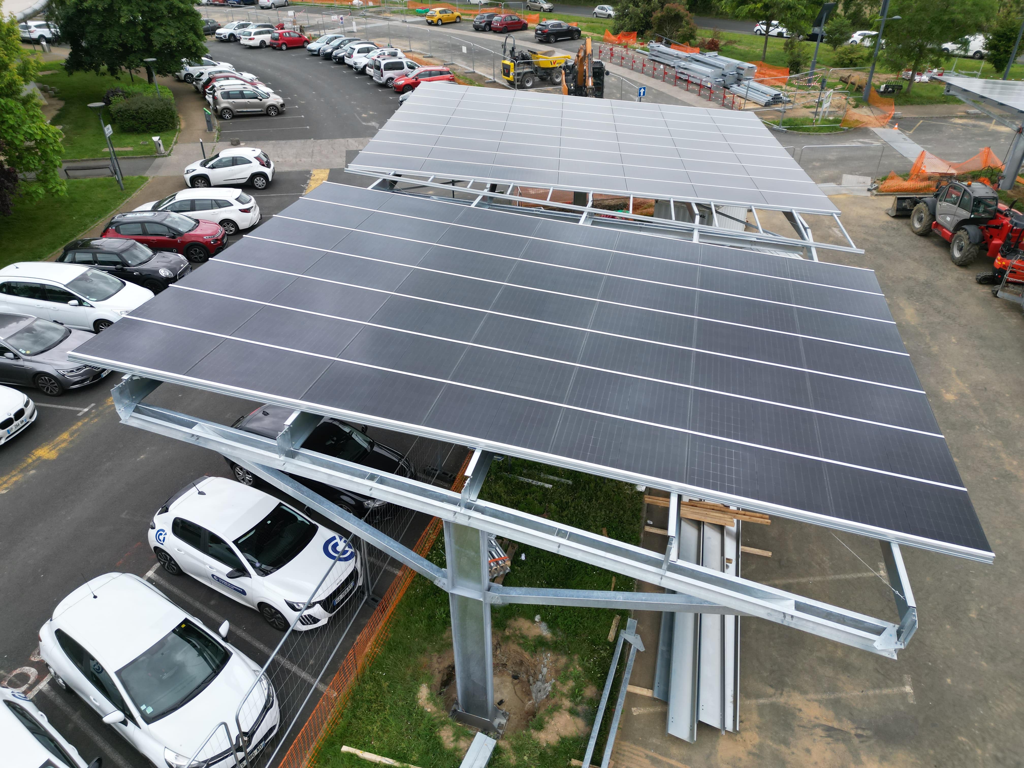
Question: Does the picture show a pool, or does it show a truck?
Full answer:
I can see a truck in this picture.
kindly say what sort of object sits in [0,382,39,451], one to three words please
car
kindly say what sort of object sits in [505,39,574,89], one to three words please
truck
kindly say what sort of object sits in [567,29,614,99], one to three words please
work vehicle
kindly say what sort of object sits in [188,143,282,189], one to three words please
car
